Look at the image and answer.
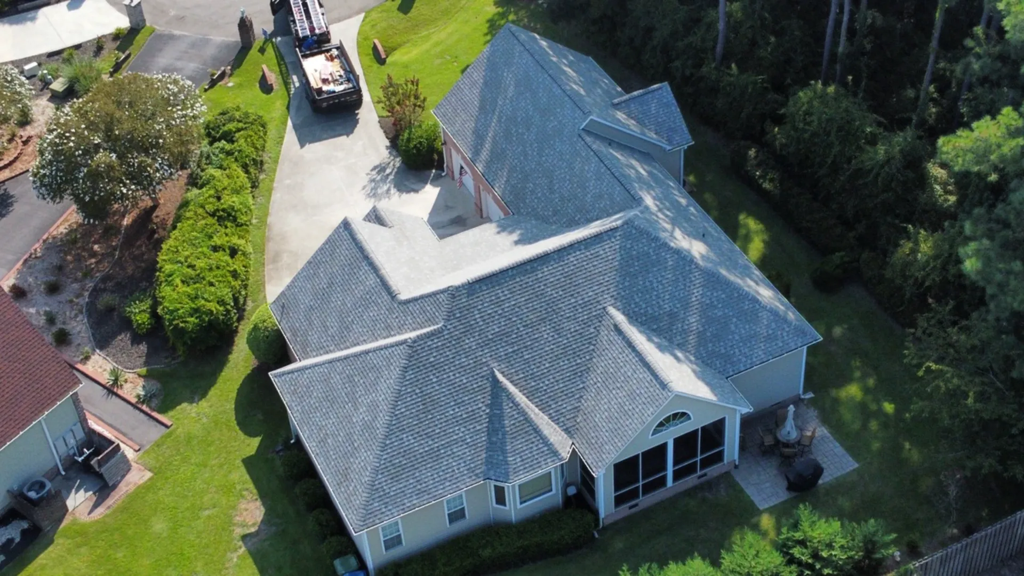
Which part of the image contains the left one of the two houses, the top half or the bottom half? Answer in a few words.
bottom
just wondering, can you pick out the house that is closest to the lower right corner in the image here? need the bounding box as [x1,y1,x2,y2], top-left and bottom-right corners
[265,23,827,576]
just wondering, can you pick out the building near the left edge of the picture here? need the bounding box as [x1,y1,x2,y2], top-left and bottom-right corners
[0,287,95,521]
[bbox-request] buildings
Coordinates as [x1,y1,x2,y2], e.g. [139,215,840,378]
[265,23,827,576]
[0,287,95,521]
